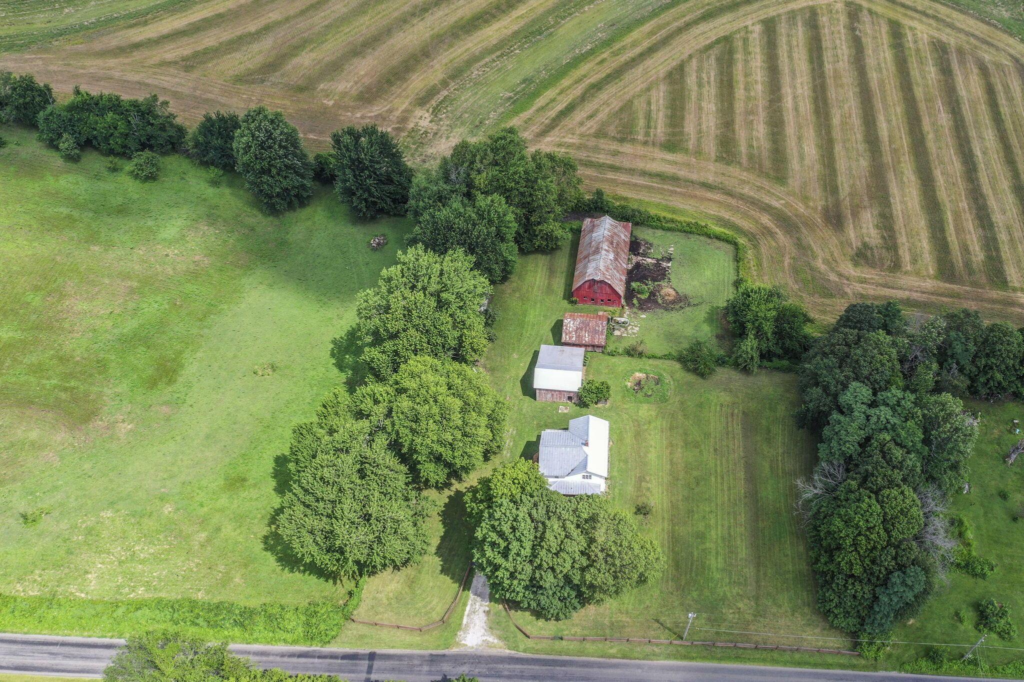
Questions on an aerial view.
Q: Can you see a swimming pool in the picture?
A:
No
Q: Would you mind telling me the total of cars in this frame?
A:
0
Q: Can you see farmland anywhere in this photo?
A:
Yes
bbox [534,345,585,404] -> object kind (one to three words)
shed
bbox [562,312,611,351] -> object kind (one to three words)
shed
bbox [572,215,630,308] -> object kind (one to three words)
barn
